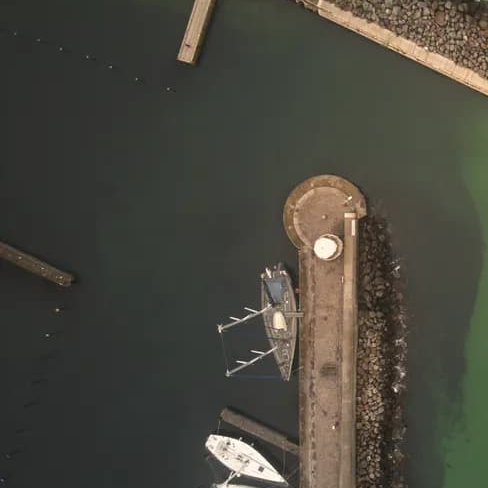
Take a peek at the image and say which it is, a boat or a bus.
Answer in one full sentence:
I can see a boat in this picture.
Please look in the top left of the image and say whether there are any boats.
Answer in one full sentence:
No, I see no boat in the top left of the image.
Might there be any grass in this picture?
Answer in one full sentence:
No, the picture contains no grass.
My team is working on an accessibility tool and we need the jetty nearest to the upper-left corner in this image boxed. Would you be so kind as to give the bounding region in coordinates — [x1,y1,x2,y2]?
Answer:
[177,0,218,65]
